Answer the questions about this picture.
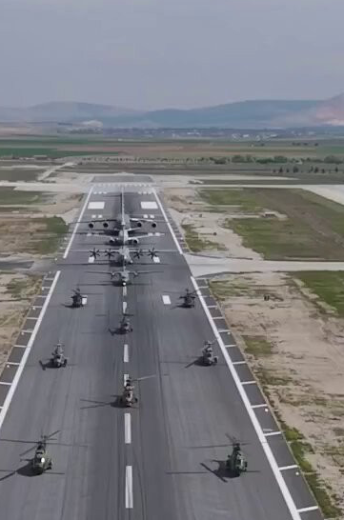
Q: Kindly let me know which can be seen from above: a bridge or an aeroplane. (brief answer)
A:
aeroplane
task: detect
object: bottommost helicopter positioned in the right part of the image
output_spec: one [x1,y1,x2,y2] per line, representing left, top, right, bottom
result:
[189,428,281,476]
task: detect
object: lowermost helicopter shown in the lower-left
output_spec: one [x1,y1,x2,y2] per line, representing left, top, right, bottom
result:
[0,427,88,475]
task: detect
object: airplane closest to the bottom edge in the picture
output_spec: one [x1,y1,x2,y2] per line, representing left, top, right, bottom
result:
[84,269,163,289]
